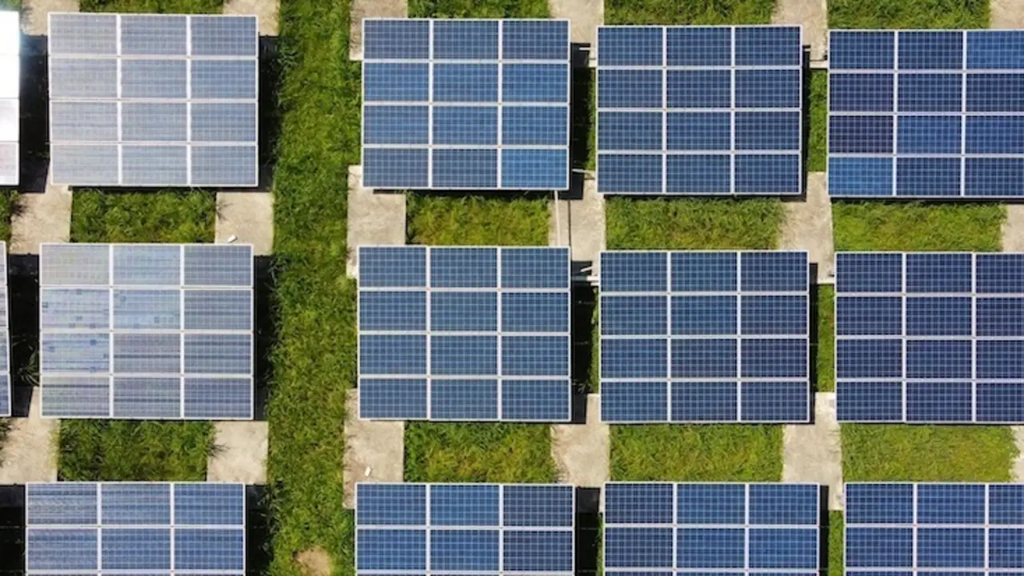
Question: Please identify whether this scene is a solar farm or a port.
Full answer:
This looks like a solar farm.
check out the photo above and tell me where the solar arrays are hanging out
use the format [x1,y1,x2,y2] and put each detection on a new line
[821,30,1024,197]
[363,19,569,189]
[603,483,819,576]
[359,247,570,420]
[835,483,1024,576]
[40,244,256,418]
[49,15,260,185]
[597,25,801,194]
[0,11,32,182]
[26,482,249,576]
[828,252,1024,423]
[599,251,809,423]
[0,242,18,416]
[357,483,574,576]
